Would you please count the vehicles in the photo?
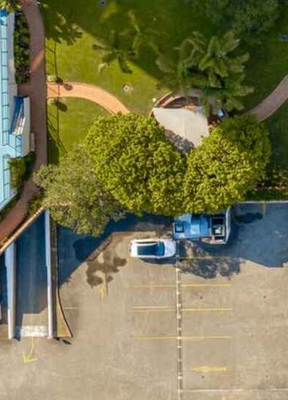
2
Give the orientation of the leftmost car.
from side to side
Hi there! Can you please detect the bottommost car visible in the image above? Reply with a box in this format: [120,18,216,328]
[131,238,176,260]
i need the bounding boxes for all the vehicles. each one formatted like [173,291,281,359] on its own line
[175,212,229,242]
[131,238,176,260]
